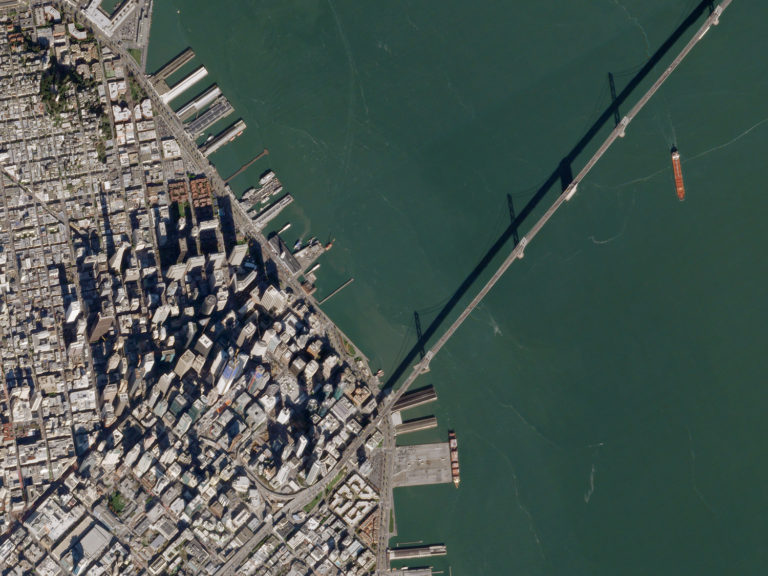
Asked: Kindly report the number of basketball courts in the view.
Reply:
0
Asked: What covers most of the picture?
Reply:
water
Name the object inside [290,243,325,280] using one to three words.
pier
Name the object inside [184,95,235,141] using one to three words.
pier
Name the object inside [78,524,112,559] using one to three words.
building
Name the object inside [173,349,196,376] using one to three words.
building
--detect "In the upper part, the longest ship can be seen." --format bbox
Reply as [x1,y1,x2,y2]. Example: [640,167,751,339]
[672,150,685,201]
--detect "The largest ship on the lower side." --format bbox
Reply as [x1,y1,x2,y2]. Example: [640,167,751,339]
[448,431,460,488]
